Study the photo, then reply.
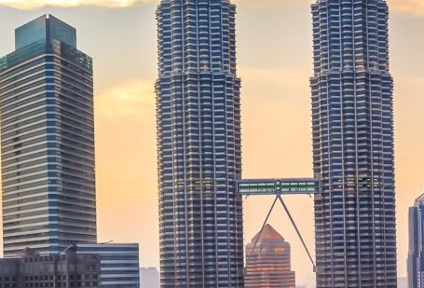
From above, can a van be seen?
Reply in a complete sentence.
No, I find no van anywhere in the image.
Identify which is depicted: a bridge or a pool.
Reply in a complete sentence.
There is a bridge in the scene.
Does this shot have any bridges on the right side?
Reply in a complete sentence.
Yes, the scene does show a bridge on the right side.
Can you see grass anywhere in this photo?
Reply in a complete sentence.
No, there is no grass in the image.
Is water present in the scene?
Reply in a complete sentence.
No, there is no water in the image.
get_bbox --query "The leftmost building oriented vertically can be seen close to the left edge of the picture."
[0,17,95,257]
